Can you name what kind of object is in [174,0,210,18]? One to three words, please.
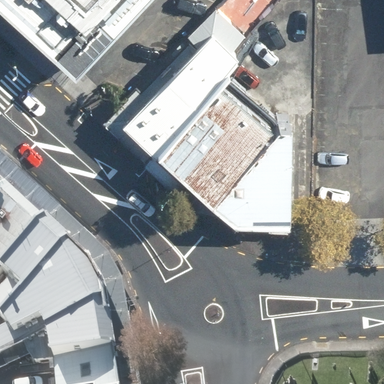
vehicle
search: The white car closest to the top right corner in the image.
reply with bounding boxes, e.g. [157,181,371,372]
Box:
[252,41,280,68]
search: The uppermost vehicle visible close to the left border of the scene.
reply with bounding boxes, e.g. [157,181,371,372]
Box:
[18,89,48,117]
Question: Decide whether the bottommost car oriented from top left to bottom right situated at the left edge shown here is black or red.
red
